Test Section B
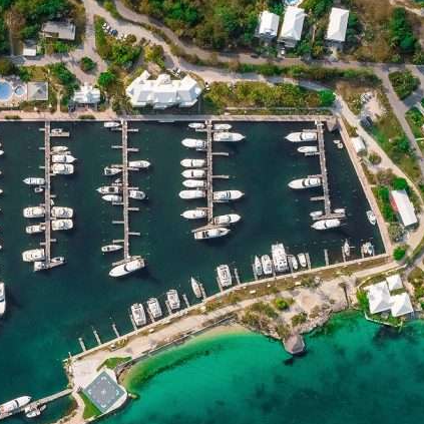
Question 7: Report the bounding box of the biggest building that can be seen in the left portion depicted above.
[126,71,202,111]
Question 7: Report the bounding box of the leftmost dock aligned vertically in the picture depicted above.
[35,122,71,269]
